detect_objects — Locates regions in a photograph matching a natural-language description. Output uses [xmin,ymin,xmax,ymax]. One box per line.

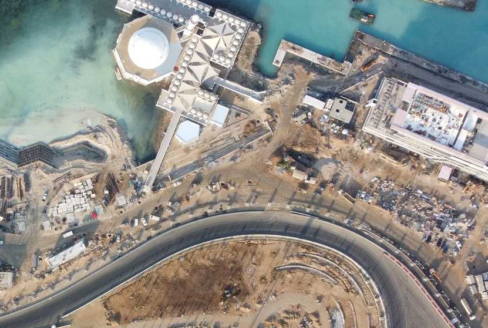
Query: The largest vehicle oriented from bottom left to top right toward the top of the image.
[359,57,378,74]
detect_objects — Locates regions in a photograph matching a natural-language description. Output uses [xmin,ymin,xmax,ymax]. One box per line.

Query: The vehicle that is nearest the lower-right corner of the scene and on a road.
[459,296,478,324]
